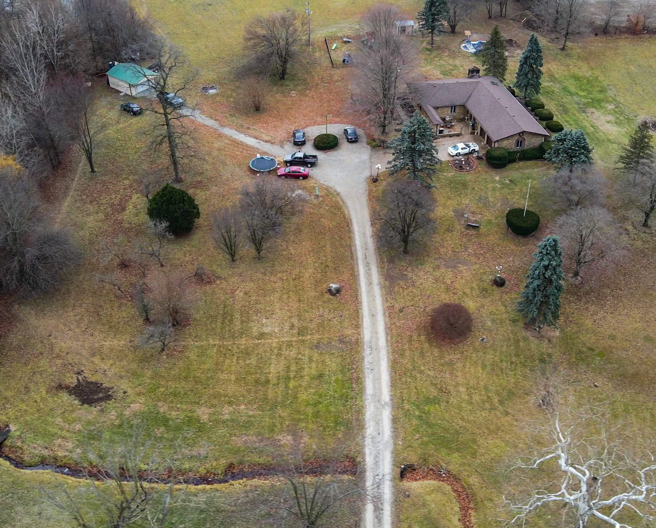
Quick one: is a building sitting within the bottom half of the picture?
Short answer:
No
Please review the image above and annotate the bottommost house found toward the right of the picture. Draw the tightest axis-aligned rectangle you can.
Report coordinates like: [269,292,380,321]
[402,65,550,148]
